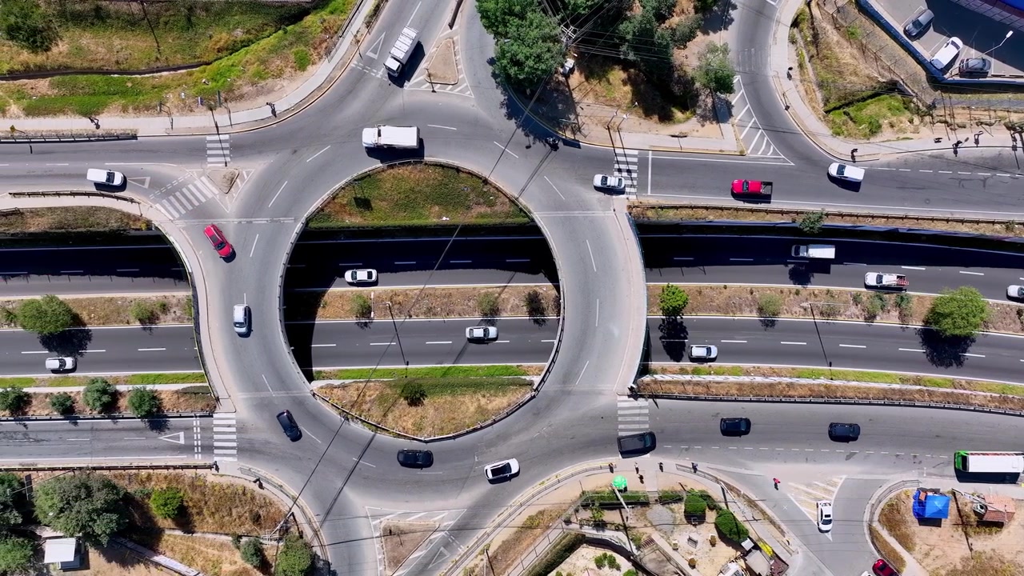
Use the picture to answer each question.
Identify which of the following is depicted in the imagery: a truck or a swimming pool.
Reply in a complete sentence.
Looking from above, you can make out a truck.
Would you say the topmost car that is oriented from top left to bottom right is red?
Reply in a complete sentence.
Yes, the topmost car that is oriented from top left to bottom right is indeed red.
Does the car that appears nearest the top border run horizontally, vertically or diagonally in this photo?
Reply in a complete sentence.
The car that appears nearest the top border runs diagonally in the image.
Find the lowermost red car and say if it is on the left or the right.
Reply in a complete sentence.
You can find the lowermost red car on the right side of the picture.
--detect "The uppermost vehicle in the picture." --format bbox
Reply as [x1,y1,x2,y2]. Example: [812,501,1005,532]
[898,8,935,39]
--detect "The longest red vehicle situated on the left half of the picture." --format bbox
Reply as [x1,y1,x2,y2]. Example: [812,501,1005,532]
[204,224,235,261]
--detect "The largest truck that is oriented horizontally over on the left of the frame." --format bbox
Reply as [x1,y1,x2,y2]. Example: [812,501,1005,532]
[365,127,422,151]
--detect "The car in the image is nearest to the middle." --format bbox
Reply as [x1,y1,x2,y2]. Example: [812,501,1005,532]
[466,326,498,341]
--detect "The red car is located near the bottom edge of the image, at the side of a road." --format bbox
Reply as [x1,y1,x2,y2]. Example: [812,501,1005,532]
[868,555,903,576]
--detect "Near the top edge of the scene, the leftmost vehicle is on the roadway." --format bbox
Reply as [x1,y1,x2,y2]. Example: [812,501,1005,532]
[384,24,423,88]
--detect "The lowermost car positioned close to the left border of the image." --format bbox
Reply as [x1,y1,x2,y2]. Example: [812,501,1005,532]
[47,357,80,372]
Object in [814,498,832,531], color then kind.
white car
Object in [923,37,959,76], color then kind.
white car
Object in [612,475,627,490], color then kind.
green umbrella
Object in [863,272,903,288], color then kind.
white vehicle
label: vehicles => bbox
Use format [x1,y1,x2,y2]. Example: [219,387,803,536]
[616,432,655,452]
[947,450,1024,474]
[814,498,832,531]
[718,418,749,434]
[923,37,959,76]
[365,127,422,151]
[714,559,751,576]
[234,305,251,334]
[868,555,903,576]
[47,357,80,372]
[593,175,625,191]
[863,272,903,288]
[824,163,864,182]
[825,424,858,440]
[204,224,235,261]
[545,140,559,147]
[787,243,836,261]
[347,269,378,284]
[485,459,520,479]
[898,8,935,39]
[687,345,716,360]
[953,58,988,76]
[730,180,771,197]
[398,449,433,466]
[277,408,302,441]
[466,326,498,341]
[384,24,423,88]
